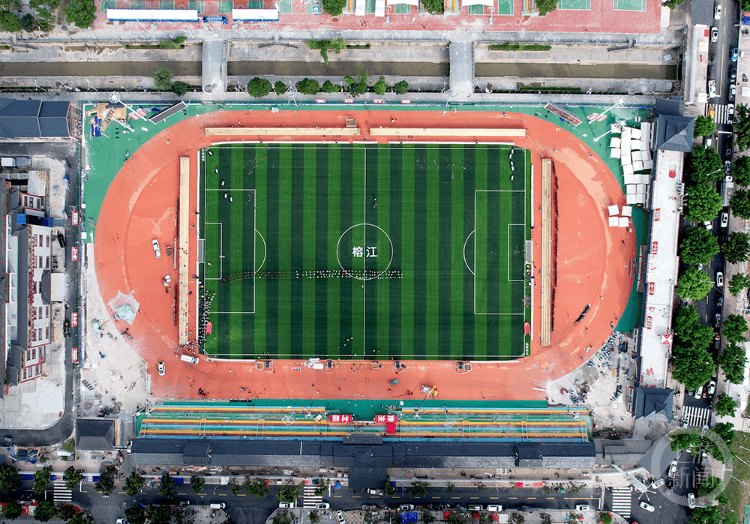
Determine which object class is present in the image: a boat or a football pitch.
football pitch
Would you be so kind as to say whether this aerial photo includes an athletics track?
Yes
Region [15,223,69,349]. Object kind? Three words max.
house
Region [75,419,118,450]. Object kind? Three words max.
building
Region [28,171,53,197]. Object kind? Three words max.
shed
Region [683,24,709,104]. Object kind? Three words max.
house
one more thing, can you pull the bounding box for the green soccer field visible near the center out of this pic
[199,144,531,360]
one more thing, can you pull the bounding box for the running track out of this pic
[94,110,637,401]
